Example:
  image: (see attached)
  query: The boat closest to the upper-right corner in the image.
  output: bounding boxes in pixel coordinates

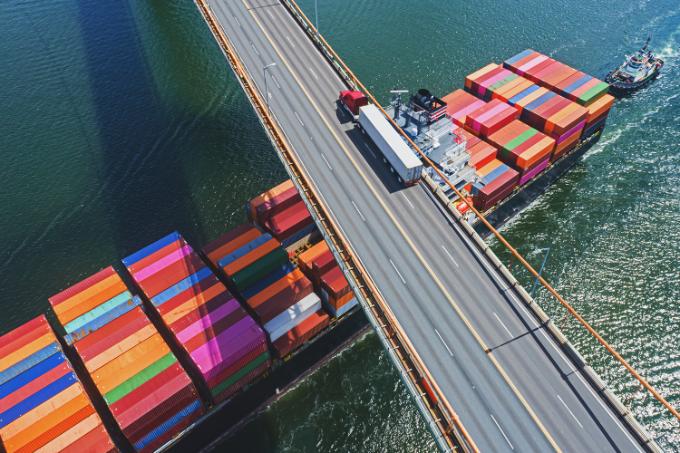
[609,38,669,93]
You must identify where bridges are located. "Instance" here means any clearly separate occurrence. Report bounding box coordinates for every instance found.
[197,0,680,453]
